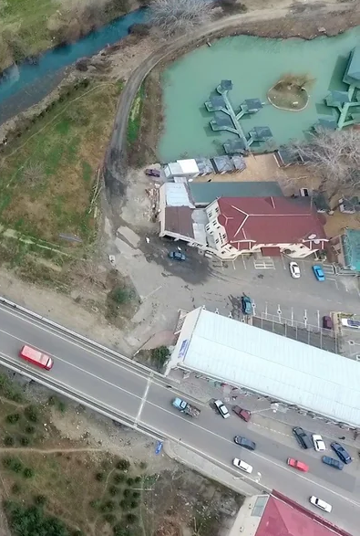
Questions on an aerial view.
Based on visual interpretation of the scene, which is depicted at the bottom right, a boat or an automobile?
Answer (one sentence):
What appears at the bottom right is an automobile.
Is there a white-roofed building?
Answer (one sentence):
Yes, the photo shows a white-roofed building.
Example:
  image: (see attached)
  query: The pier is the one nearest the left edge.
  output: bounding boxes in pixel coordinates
[223,91,255,152]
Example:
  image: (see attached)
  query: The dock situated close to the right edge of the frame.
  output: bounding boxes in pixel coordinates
[335,87,360,134]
